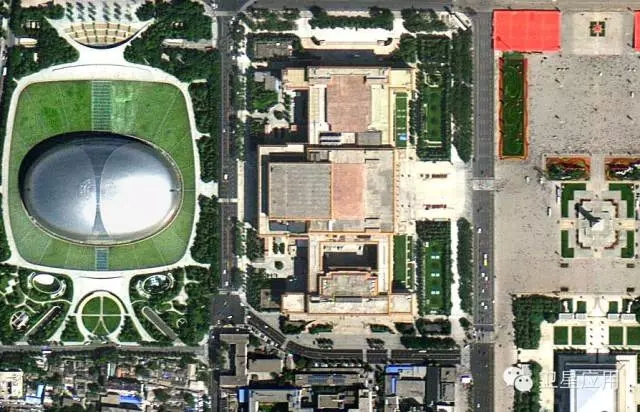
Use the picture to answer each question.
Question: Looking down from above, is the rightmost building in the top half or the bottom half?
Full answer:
You can find the rightmost building in the bottom half.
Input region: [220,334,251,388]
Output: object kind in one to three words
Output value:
building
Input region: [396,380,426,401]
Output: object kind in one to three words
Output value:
building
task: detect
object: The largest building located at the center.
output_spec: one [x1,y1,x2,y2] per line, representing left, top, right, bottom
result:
[258,66,414,319]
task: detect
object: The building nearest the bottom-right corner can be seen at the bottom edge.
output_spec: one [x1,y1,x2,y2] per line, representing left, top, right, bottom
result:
[555,349,640,412]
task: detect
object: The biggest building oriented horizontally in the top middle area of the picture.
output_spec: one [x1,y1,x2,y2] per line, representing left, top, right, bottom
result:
[253,41,293,58]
